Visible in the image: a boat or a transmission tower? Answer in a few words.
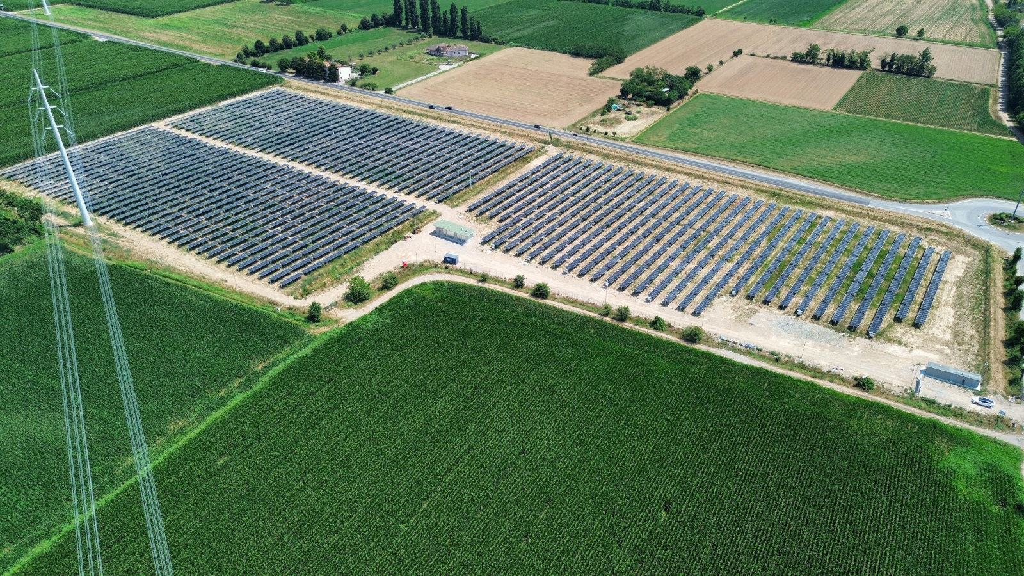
transmission tower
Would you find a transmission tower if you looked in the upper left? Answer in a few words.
Yes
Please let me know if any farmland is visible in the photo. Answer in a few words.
Yes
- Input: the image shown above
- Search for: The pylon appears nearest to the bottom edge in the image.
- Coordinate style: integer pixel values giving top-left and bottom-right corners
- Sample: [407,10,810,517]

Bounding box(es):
[28,69,94,227]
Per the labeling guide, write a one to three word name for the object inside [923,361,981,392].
building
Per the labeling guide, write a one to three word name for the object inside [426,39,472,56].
house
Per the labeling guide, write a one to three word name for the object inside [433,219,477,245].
building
